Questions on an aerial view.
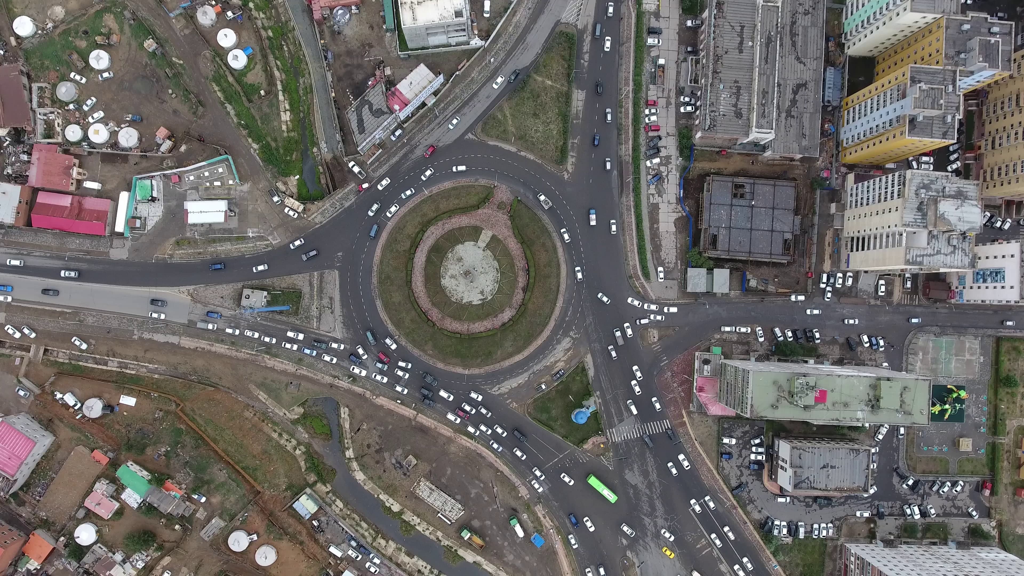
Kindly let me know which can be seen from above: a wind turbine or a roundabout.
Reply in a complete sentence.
I can see a roundabout in this picture.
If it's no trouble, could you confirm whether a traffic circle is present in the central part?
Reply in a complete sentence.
Yes, looking in the central part, one can make out a traffic circle.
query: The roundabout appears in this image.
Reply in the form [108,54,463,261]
[374,179,565,371]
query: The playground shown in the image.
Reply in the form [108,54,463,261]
[908,334,1005,472]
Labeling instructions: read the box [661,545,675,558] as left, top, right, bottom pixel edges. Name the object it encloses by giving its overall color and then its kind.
yellow vehicle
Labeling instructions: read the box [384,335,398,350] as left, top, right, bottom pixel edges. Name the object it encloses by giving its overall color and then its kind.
white vehicle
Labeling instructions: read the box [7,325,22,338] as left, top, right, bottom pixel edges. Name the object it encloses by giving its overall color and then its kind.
white vehicle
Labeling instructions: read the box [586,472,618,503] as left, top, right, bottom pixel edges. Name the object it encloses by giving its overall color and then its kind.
green bus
